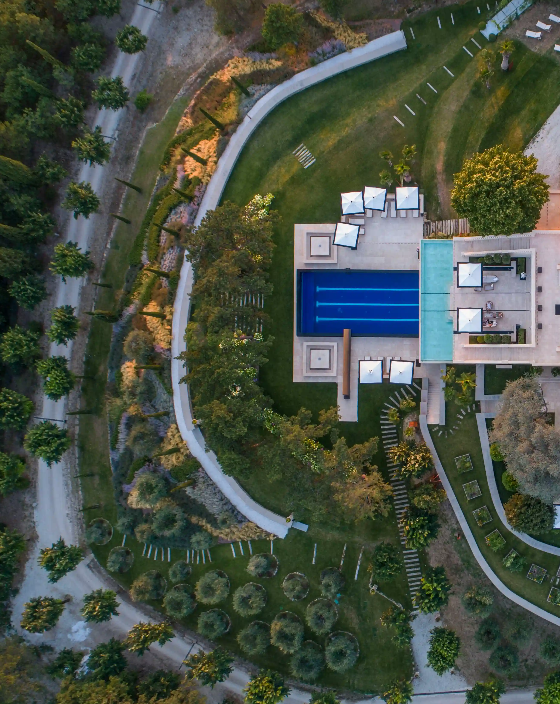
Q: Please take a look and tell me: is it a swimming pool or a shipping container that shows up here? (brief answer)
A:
swimming pool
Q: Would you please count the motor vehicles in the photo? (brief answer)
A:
0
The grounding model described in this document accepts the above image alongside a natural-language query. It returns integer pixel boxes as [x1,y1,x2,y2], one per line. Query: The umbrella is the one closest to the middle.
[358,360,383,384]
